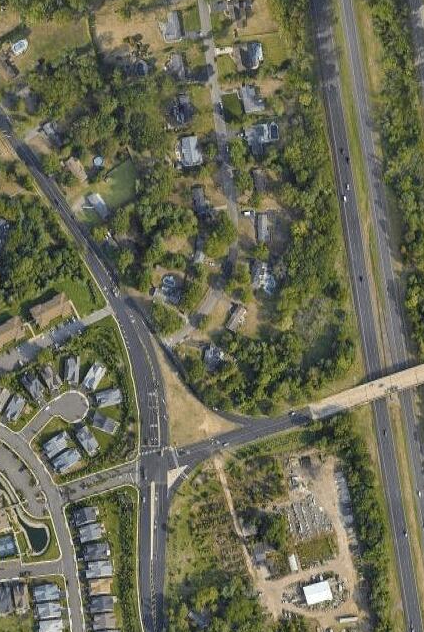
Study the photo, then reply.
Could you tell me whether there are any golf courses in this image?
No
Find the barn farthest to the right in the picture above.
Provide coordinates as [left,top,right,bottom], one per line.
[303,580,333,605]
